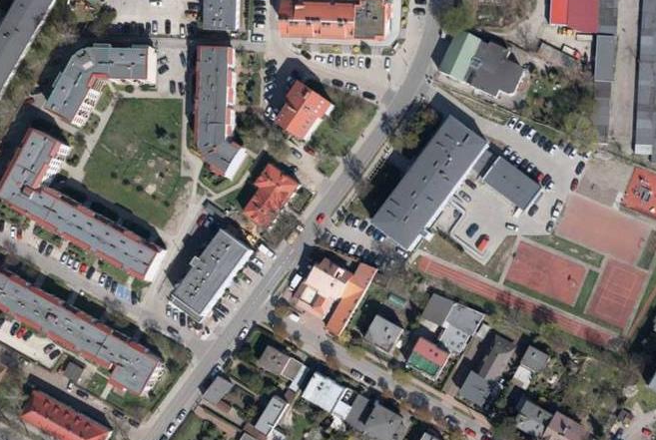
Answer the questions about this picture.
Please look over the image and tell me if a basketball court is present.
Yes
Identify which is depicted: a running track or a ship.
running track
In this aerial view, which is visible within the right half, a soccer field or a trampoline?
soccer field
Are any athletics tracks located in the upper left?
No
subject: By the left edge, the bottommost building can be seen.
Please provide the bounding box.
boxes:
[21,390,113,440]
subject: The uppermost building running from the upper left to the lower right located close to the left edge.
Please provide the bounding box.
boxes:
[0,129,162,280]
